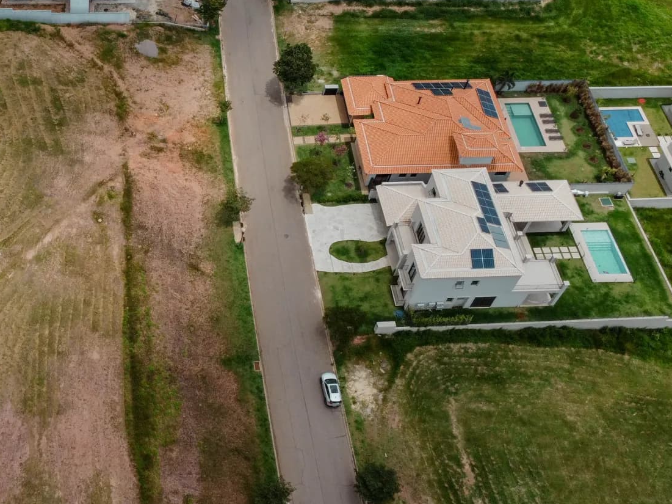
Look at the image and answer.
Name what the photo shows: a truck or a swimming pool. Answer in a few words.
swimming pool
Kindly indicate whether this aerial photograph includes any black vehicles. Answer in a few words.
No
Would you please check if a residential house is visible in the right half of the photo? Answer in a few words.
Yes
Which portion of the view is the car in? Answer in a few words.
bottom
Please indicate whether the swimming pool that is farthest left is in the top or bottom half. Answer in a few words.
top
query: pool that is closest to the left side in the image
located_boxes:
[504,102,547,148]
